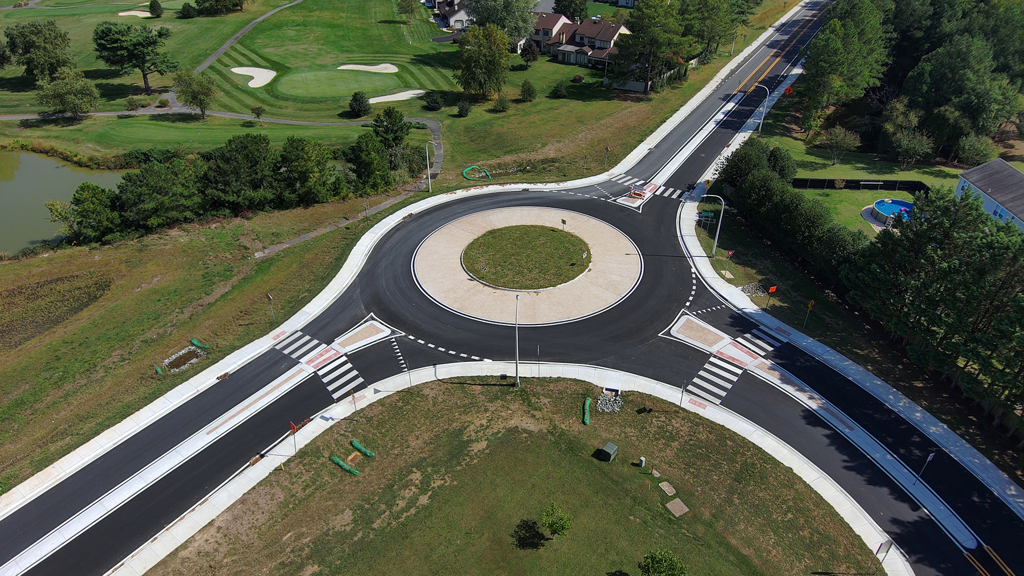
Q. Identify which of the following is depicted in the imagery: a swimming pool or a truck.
swimming pool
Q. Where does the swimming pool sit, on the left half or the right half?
right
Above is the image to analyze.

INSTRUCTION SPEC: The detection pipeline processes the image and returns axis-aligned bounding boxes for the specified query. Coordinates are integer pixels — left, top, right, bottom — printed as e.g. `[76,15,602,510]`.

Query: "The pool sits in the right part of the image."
[871,197,932,229]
